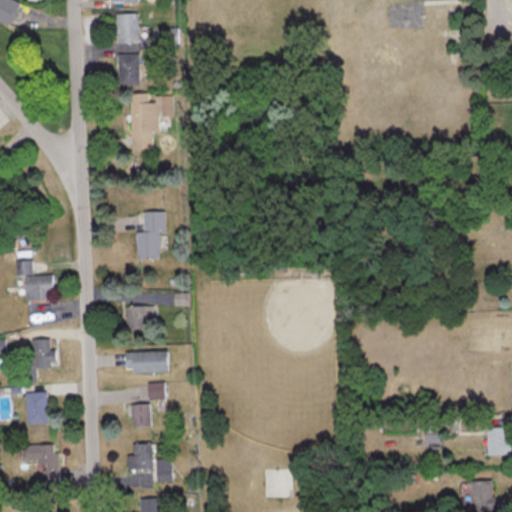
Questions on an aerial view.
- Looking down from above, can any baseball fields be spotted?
Yes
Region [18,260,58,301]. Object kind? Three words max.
house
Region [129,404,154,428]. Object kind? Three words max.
house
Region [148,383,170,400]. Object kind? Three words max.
building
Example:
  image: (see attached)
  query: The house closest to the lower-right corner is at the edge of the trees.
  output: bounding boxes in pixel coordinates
[462,480,495,512]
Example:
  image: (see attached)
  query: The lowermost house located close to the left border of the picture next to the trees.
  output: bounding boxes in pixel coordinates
[20,445,65,474]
